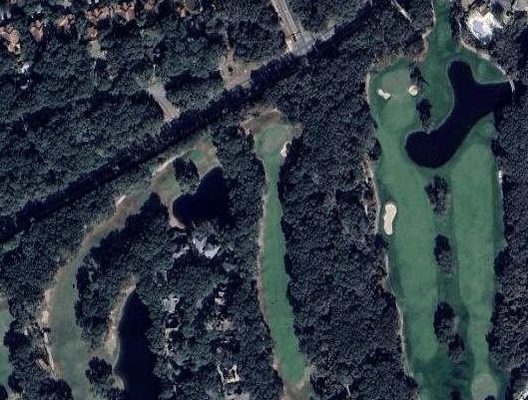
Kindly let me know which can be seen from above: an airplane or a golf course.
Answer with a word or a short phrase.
golf course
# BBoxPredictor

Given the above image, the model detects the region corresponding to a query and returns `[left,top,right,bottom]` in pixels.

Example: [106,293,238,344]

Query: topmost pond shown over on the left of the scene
[174,167,228,225]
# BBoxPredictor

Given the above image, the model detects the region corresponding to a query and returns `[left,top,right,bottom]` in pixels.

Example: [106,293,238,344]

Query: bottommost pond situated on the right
[407,60,512,167]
